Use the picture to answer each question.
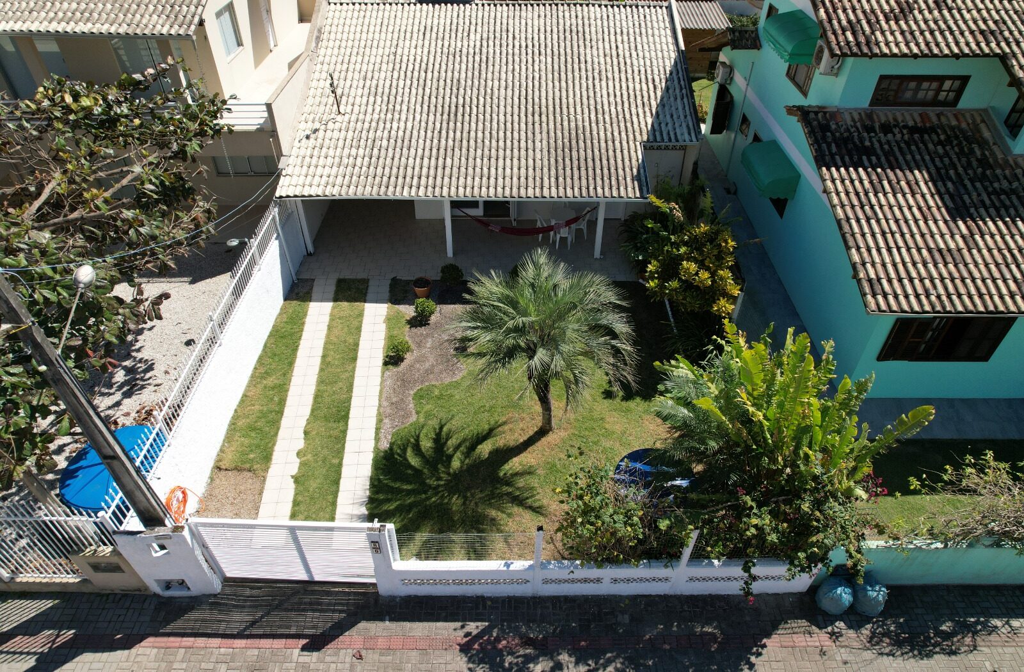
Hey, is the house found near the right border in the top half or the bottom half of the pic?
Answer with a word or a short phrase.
top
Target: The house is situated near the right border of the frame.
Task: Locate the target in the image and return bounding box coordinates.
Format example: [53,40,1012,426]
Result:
[707,0,1024,397]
